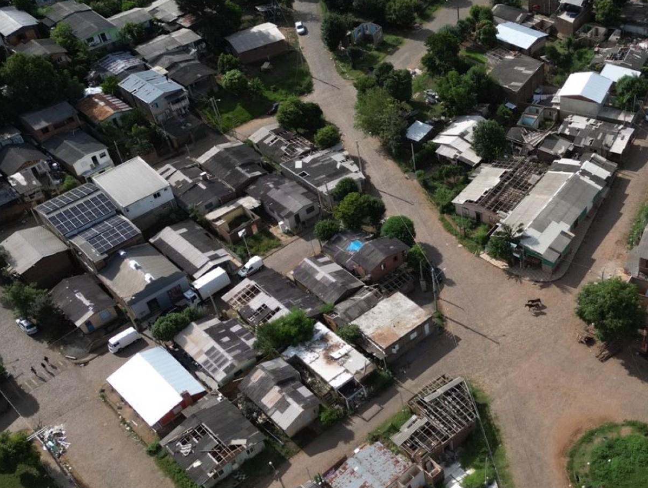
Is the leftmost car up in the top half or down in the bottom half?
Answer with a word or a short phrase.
bottom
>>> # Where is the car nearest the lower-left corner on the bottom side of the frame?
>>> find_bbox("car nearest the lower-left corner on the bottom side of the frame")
[15,314,38,334]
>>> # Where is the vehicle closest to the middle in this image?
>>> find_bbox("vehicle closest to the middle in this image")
[237,252,264,276]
